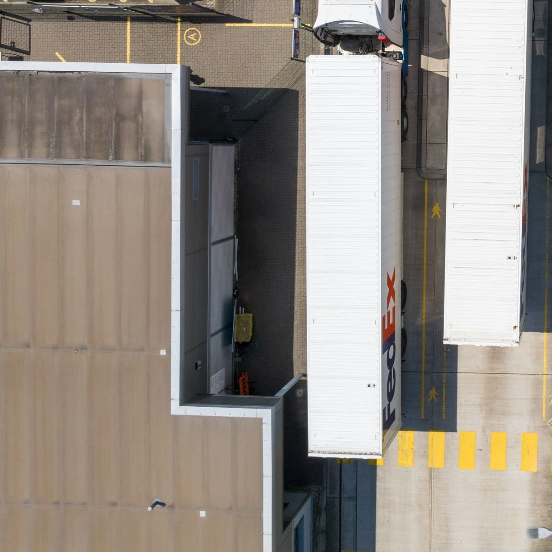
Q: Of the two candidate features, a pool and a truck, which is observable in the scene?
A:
truck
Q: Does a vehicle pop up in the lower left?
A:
No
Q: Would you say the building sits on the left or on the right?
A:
left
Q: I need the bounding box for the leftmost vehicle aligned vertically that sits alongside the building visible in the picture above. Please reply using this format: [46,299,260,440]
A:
[305,0,406,457]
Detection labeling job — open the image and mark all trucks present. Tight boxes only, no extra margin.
[305,0,406,457]
[444,0,529,345]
